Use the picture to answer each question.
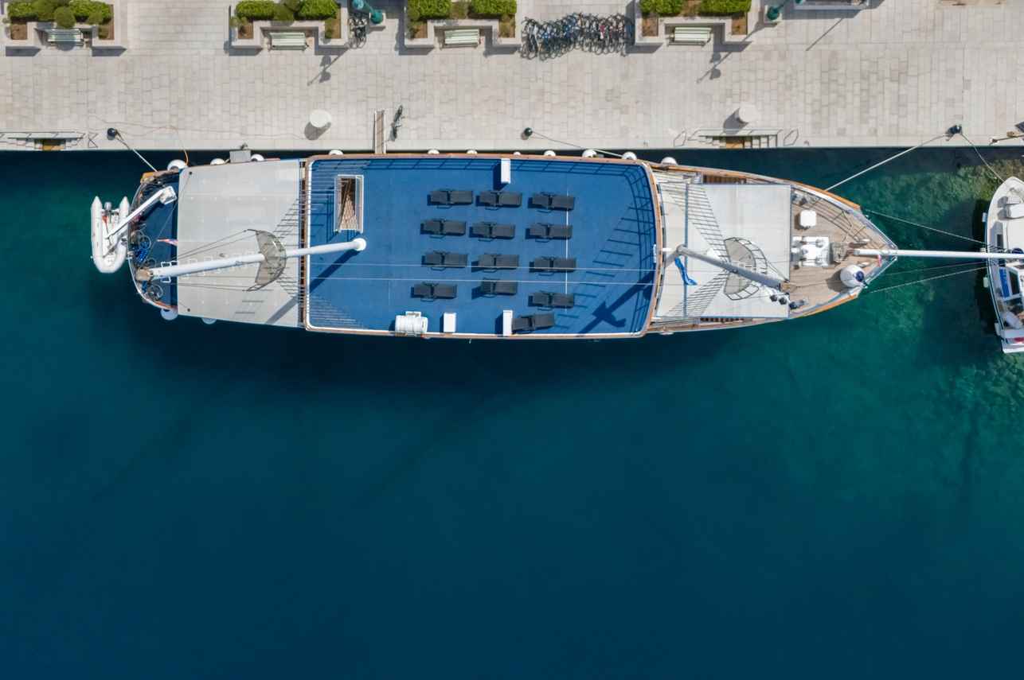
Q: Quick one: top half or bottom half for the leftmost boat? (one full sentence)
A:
The leftmost boat is in the top half of the image.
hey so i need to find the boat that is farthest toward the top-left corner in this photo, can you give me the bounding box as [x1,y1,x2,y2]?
[91,195,129,270]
